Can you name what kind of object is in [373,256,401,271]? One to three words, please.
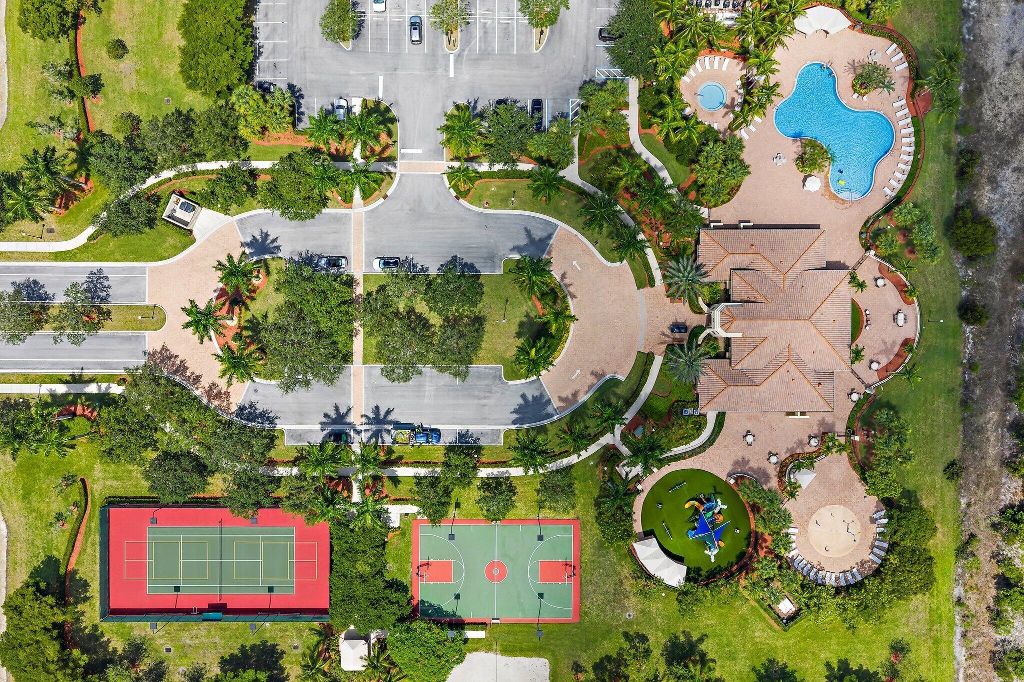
car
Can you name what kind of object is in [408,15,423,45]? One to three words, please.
vehicle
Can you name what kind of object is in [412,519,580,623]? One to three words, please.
basketball court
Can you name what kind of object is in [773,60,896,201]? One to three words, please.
swimming pool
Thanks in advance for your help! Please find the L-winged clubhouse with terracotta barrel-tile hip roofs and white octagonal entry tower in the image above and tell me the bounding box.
[697,229,852,412]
